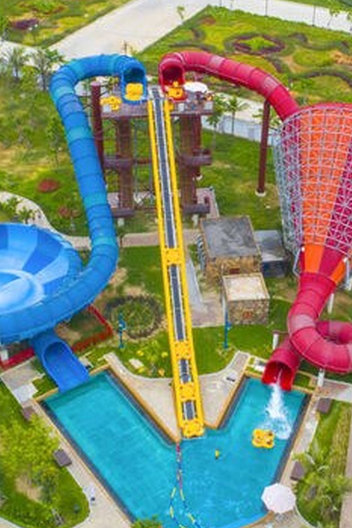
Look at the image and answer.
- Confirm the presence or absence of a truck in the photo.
No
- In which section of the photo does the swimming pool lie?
bottom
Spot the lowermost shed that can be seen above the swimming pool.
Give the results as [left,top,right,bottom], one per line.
[223,272,268,319]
